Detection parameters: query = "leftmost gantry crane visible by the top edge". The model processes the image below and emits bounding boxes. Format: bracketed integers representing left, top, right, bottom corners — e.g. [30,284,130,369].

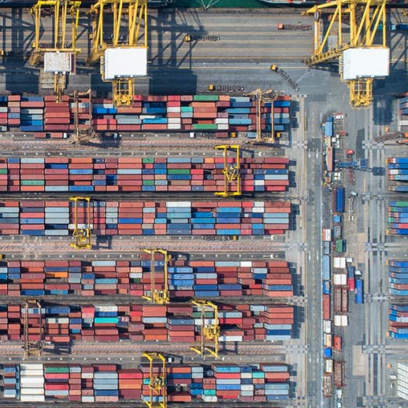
[29,0,83,100]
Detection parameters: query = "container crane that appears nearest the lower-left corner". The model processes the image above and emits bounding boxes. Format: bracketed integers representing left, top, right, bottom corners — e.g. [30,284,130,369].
[21,297,45,357]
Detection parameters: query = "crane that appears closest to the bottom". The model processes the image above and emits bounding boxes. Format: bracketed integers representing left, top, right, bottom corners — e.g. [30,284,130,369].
[139,352,167,408]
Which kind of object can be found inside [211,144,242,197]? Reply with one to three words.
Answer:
container crane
